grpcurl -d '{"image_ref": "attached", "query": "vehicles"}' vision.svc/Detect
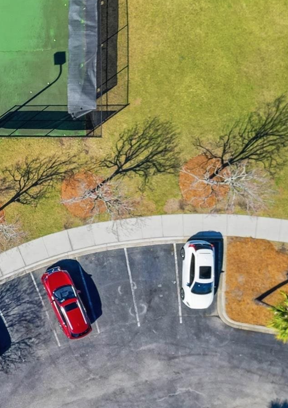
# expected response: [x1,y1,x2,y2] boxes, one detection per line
[44,267,90,340]
[181,240,218,307]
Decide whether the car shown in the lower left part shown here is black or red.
red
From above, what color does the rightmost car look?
white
